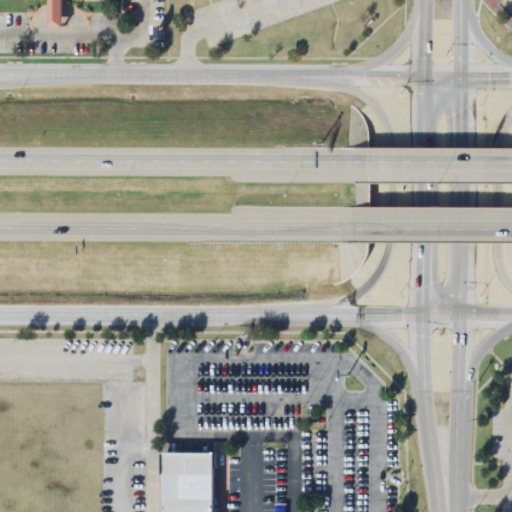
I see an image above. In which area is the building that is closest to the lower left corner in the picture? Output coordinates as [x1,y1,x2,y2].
[160,449,220,512]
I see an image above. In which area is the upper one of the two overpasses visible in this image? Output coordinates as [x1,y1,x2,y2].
[352,148,512,182]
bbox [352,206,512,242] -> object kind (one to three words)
overpass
